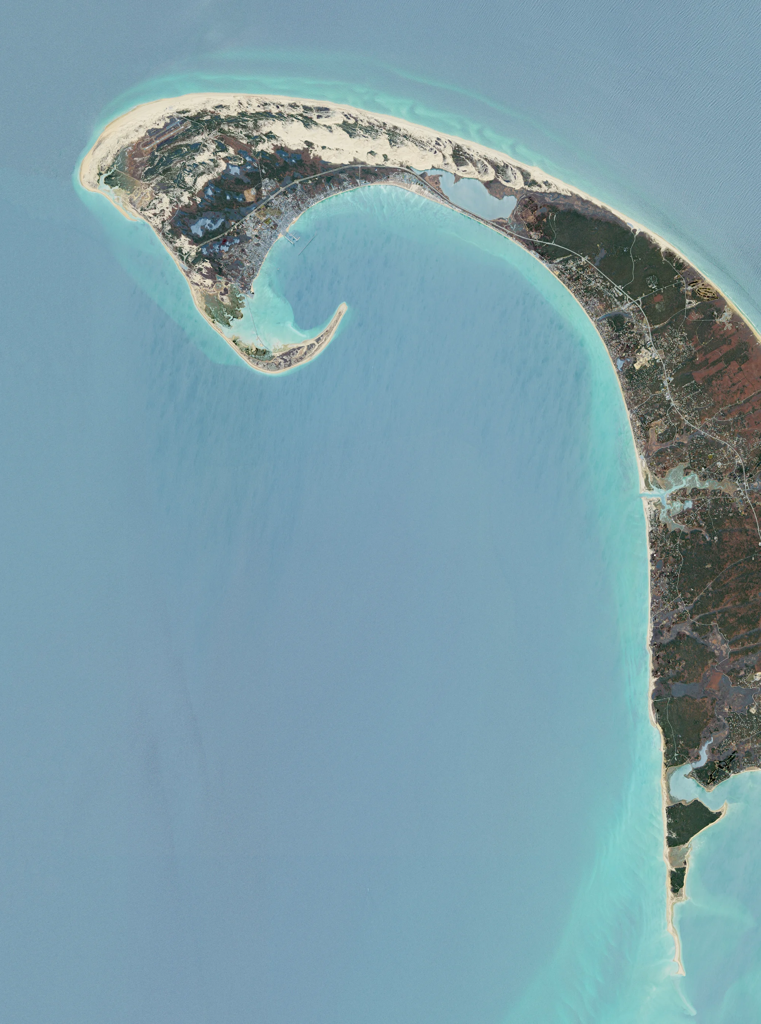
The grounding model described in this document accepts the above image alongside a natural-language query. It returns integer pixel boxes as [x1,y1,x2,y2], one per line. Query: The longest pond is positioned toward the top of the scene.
[411,167,517,220]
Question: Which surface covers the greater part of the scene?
water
